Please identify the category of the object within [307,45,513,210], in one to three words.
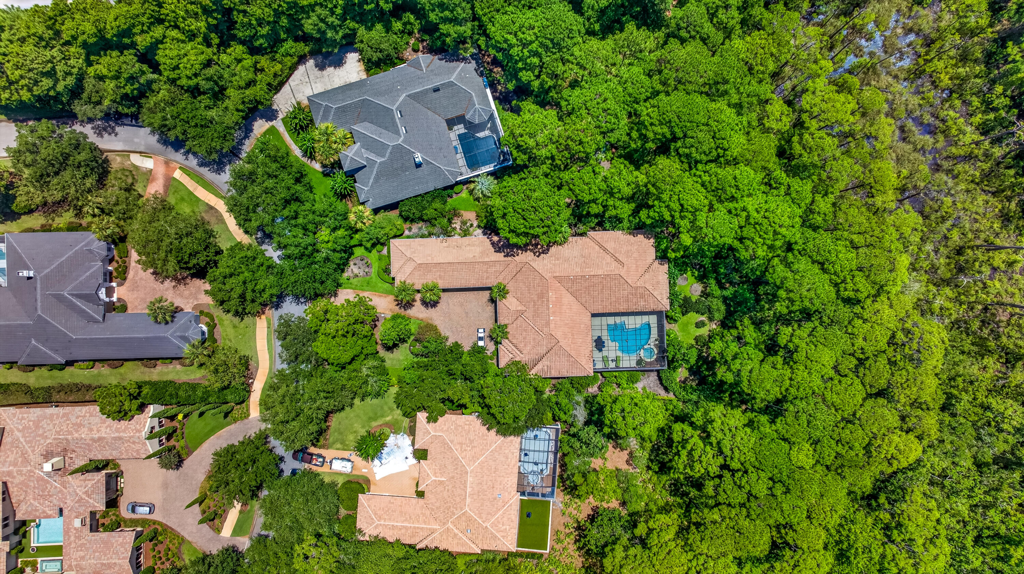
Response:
house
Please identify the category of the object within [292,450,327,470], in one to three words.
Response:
vehicle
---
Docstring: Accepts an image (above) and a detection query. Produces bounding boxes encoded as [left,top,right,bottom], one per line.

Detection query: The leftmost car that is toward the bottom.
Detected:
[126,501,156,516]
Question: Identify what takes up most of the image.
trees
